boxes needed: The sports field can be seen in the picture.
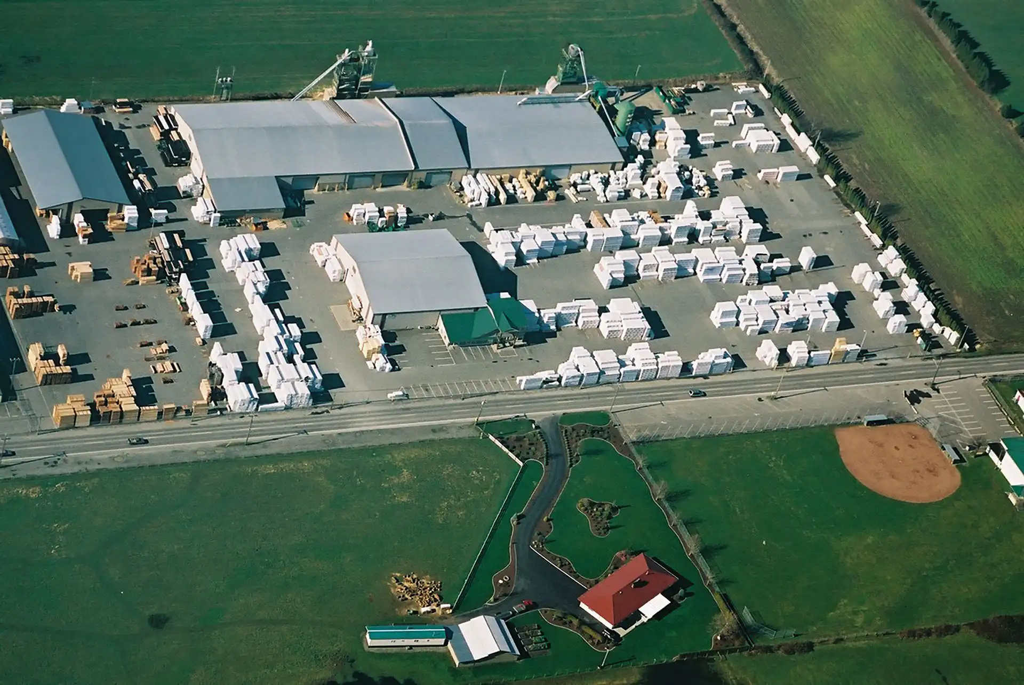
[639,425,1024,647]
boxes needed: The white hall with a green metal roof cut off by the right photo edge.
[986,430,1024,483]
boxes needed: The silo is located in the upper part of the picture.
[614,97,641,132]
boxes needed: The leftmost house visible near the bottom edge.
[365,625,445,653]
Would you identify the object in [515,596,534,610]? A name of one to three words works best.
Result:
vehicle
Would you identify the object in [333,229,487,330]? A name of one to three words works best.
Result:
building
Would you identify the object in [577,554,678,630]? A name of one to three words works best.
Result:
house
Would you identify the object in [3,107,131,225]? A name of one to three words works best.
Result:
shed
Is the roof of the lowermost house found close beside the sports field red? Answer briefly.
Yes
